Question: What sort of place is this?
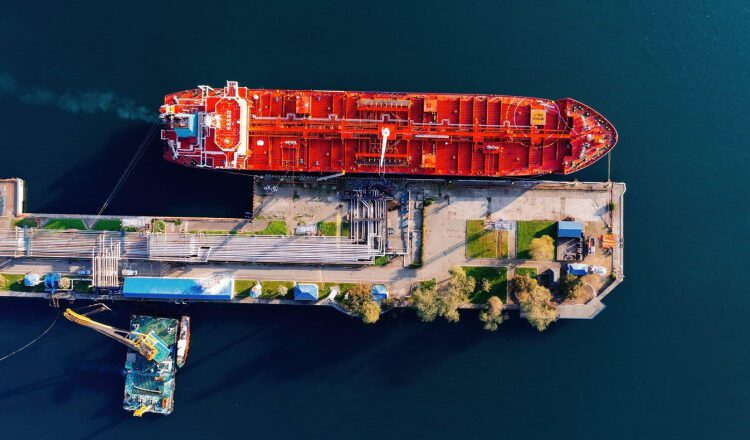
port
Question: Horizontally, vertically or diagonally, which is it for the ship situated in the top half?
horizontally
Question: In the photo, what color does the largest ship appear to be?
red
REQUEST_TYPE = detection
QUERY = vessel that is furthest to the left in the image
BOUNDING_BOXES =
[64,302,180,418]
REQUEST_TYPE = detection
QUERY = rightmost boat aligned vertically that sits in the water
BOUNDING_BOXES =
[177,315,192,368]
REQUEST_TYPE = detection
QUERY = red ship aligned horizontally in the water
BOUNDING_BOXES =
[158,79,620,177]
